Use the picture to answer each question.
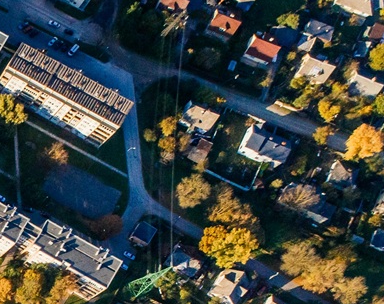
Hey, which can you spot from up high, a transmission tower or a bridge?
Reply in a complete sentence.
I can see a transmission tower in this picture.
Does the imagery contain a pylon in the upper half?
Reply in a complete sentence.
Yes, a pylon appears in the upper half.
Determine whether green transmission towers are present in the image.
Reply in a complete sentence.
Yes, the photo shows a green transmission tower.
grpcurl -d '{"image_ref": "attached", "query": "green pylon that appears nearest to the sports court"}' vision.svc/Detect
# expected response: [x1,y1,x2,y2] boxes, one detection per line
[129,269,172,297]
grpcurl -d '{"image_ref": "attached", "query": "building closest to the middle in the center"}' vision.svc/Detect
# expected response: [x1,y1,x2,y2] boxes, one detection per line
[190,130,214,165]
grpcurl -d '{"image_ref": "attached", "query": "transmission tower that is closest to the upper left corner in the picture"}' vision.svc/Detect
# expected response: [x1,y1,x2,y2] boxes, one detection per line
[165,3,198,35]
